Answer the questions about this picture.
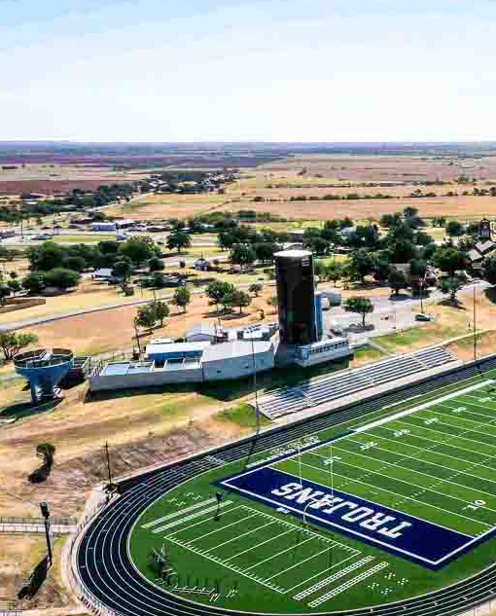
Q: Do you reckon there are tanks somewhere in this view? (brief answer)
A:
Yes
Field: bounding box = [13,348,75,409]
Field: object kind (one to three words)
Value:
storage tank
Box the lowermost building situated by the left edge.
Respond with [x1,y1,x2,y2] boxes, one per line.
[0,294,45,313]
